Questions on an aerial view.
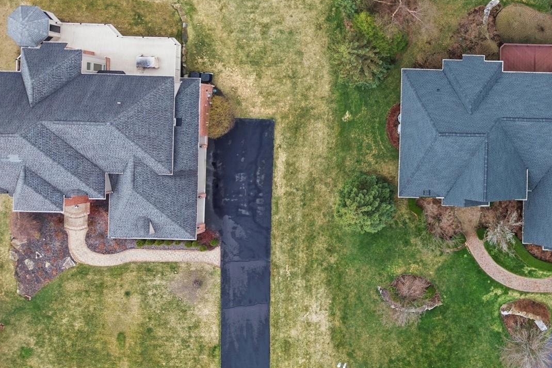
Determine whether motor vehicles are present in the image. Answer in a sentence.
No, no motor vehicle can be seen from above.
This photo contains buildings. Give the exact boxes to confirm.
[0,41,219,240]
[397,55,552,256]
